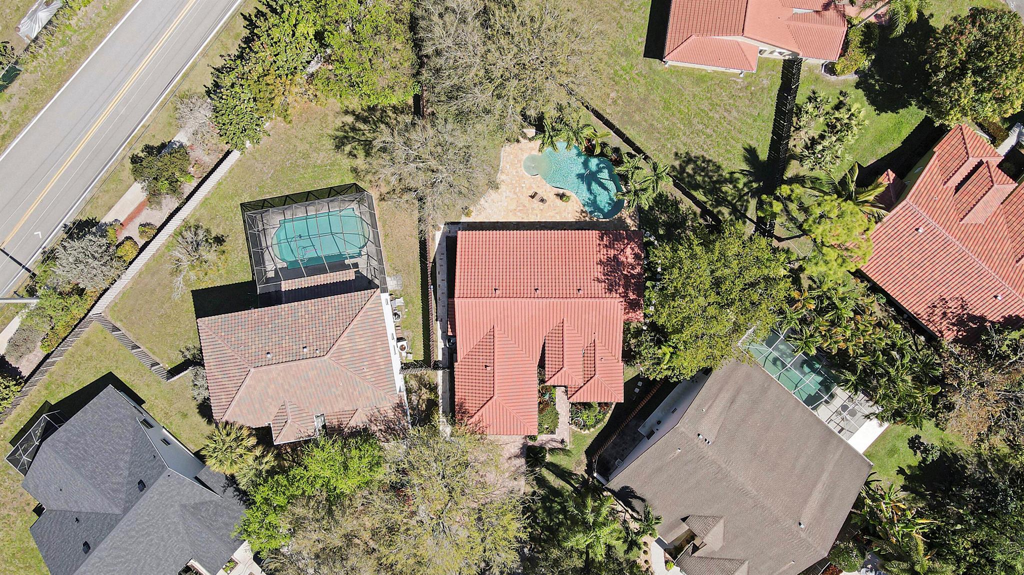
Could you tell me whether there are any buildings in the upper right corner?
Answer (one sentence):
Yes, looking in the upper right corner, one can make out a building.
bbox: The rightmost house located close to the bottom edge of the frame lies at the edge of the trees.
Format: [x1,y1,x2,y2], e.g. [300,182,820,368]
[604,346,874,575]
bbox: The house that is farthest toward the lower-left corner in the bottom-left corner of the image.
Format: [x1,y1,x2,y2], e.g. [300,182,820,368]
[22,384,251,575]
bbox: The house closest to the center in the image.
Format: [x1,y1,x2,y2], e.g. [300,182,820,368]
[447,230,644,435]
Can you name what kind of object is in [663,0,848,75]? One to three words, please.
house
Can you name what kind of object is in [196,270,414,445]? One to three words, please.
house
